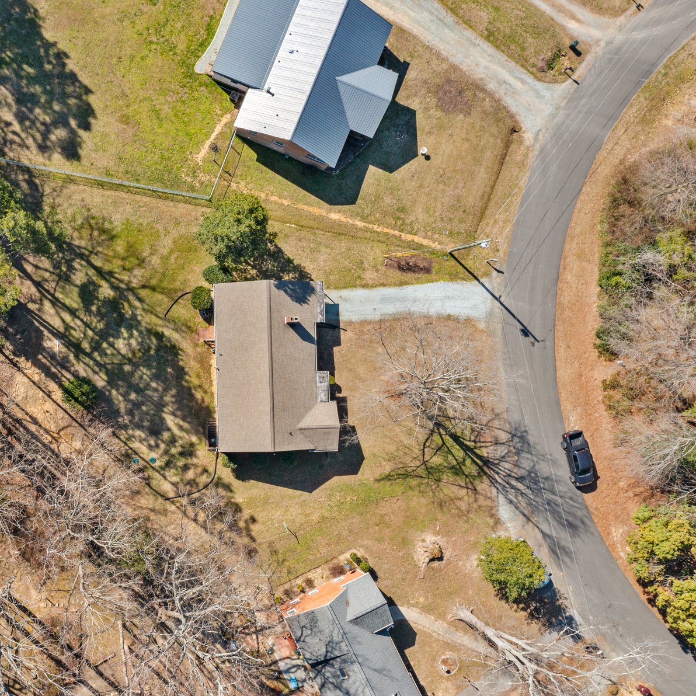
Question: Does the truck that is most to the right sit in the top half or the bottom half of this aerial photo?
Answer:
bottom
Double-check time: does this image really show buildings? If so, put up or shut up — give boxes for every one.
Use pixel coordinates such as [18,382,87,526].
[281,571,423,696]
[213,0,398,181]
[213,280,340,453]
